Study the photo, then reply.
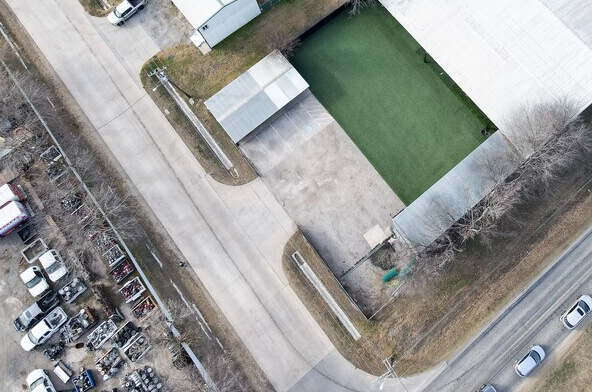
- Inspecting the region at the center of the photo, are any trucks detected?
No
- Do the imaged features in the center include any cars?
No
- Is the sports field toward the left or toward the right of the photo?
right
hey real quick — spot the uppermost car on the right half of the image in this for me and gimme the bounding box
[557,291,592,333]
